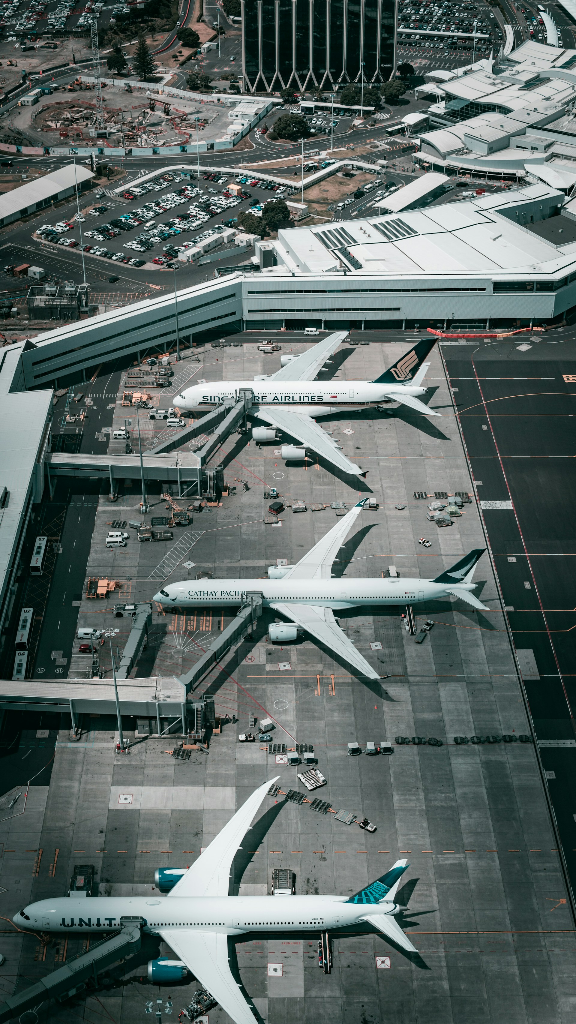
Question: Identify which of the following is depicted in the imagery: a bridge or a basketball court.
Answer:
bridge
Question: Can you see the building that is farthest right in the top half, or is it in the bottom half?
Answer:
top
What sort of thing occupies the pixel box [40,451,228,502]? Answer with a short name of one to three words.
bridge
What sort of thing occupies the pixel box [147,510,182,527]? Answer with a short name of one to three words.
work vehicle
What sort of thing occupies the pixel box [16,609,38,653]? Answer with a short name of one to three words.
bus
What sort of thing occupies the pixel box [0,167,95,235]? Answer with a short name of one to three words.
building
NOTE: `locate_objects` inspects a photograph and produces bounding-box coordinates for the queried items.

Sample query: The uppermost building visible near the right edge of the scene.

[410,40,576,202]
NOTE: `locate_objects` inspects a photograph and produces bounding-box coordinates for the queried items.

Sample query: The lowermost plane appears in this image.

[13,775,423,1024]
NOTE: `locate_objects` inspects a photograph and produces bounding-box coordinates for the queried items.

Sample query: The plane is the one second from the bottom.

[153,496,493,675]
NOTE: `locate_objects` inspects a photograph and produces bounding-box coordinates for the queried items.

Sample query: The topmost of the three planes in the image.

[170,326,444,479]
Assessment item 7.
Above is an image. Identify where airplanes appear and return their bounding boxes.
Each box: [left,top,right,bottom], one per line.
[13,775,423,1024]
[170,326,444,479]
[153,496,493,675]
